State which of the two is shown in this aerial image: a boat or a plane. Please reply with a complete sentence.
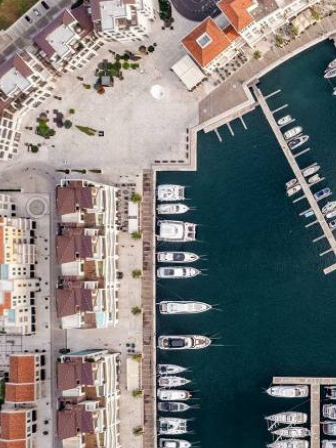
I can see a boat in this picture.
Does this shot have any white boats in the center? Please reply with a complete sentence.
Yes, you'll find a white boat in the center.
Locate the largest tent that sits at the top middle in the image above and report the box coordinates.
[170,55,205,91]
